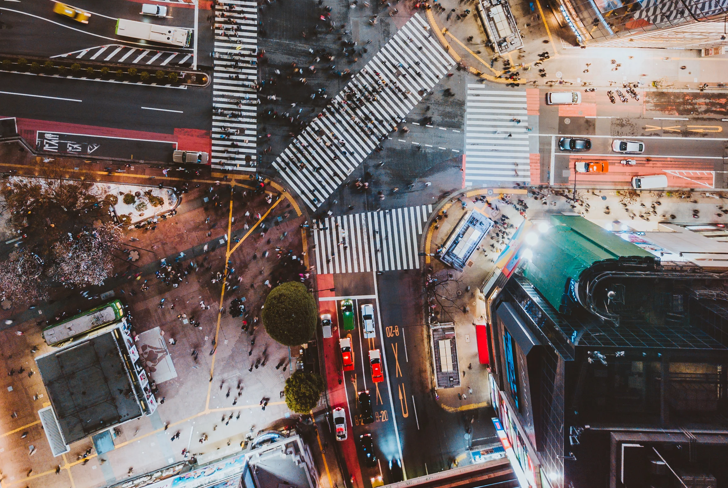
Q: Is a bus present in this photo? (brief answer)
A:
Yes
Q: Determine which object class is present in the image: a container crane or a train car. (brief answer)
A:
train car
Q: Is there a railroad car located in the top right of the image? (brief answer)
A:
No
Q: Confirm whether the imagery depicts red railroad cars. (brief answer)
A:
No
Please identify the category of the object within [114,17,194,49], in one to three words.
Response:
bus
